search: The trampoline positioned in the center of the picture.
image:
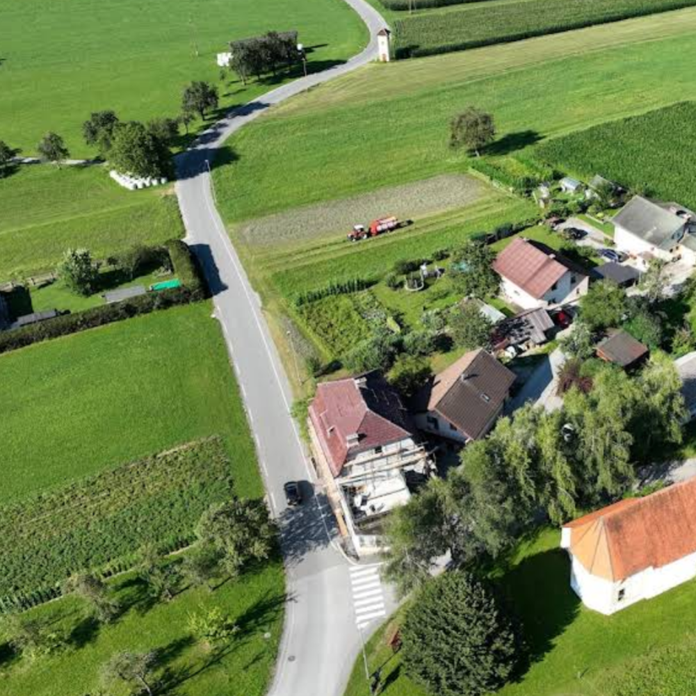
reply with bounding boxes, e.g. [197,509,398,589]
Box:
[402,272,426,289]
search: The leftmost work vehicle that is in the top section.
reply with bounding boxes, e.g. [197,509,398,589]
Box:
[345,222,371,243]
